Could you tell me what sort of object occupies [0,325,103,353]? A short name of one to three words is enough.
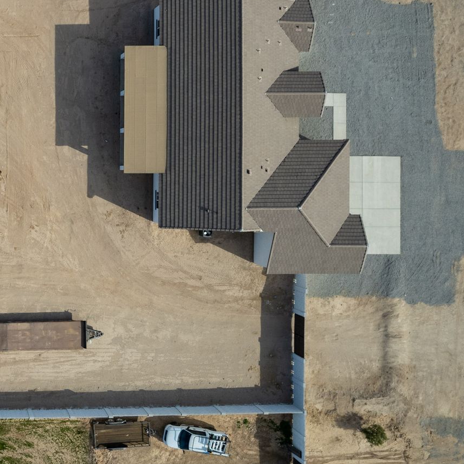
trailer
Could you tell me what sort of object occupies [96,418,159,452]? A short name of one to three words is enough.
trailer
